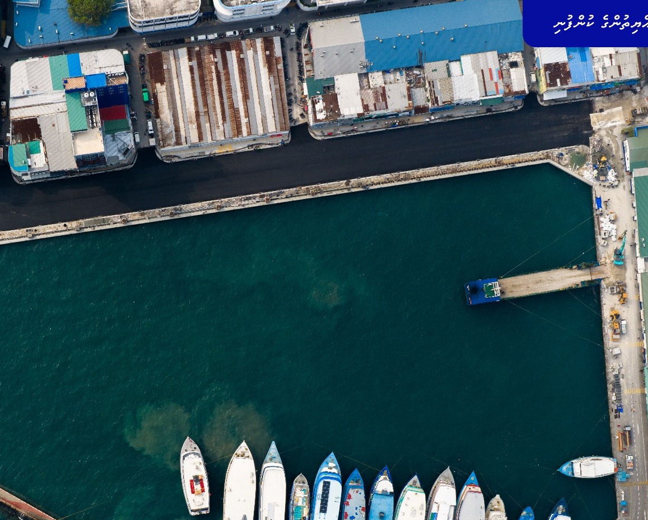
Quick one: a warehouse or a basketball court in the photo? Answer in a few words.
warehouse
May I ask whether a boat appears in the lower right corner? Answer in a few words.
Yes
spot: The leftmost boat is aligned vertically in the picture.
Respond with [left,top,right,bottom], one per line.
[180,438,210,517]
